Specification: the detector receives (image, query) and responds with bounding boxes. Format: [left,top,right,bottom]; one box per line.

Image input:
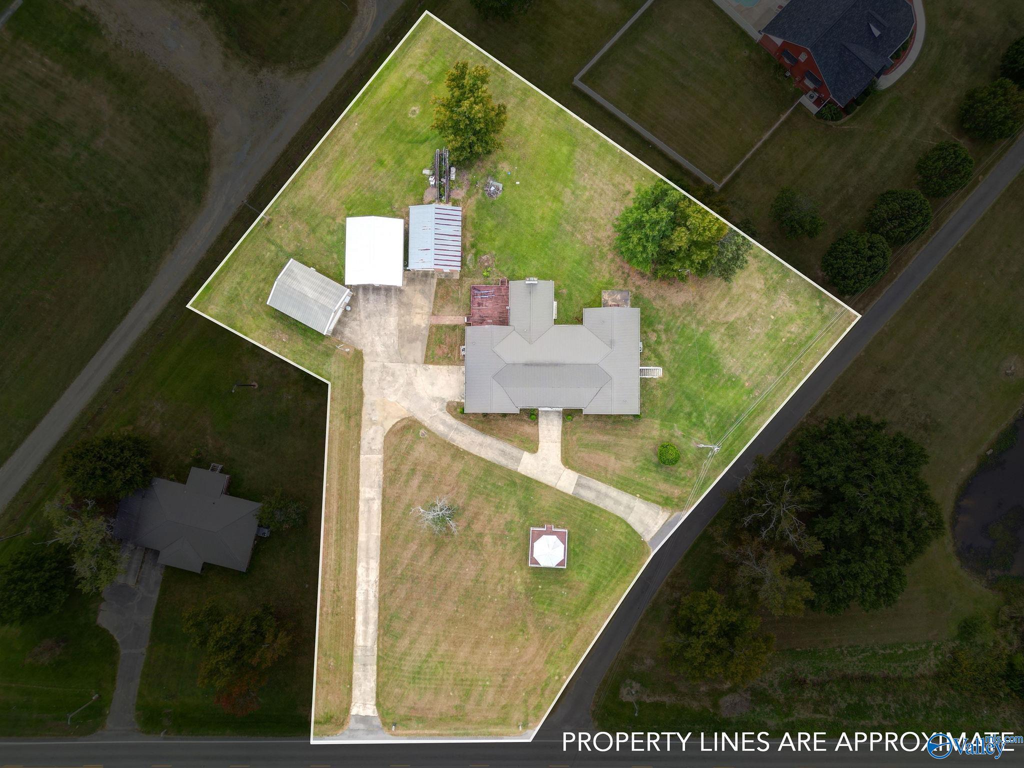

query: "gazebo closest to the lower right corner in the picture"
[529,523,568,570]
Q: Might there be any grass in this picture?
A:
Yes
